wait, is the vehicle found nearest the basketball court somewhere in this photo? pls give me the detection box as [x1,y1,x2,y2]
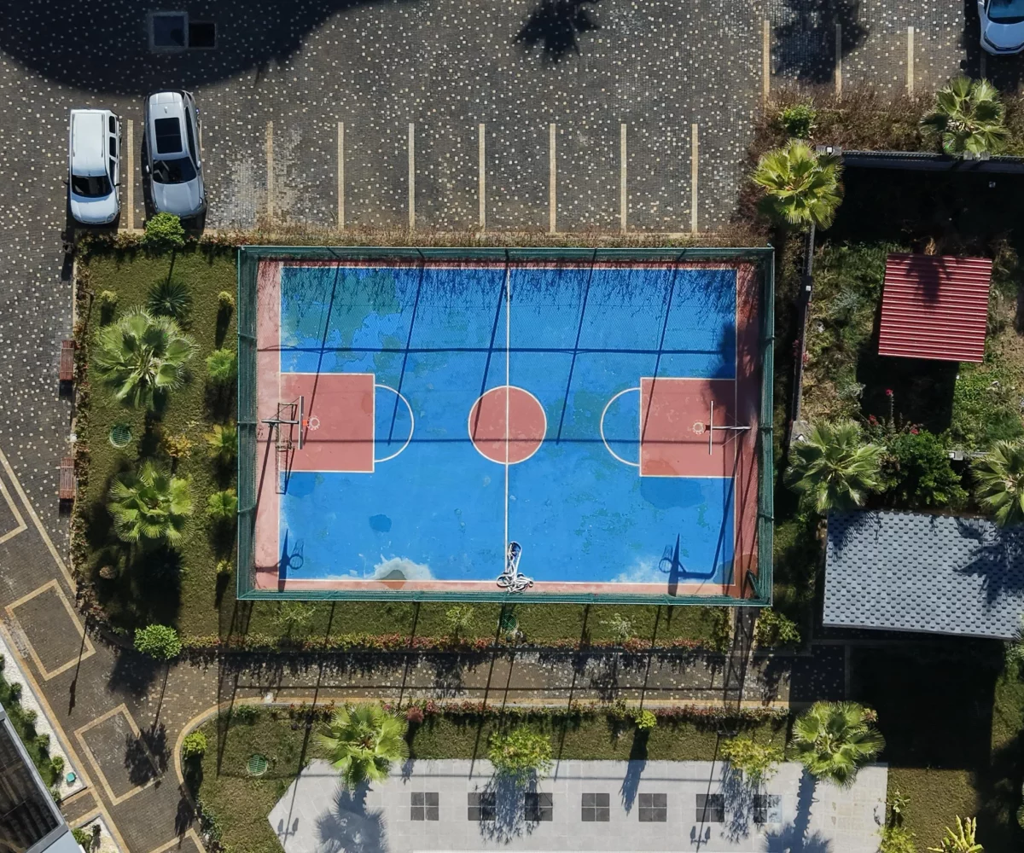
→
[145,92,207,219]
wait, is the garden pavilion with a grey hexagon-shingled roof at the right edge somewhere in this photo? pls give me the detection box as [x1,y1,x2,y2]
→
[819,509,1024,640]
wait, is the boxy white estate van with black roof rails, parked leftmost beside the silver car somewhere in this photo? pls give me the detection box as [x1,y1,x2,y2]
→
[63,109,123,226]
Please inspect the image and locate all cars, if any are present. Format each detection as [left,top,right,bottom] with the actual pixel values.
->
[63,109,123,226]
[145,92,207,219]
[976,0,1024,55]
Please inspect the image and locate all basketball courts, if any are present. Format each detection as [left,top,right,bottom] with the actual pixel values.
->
[256,258,761,598]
